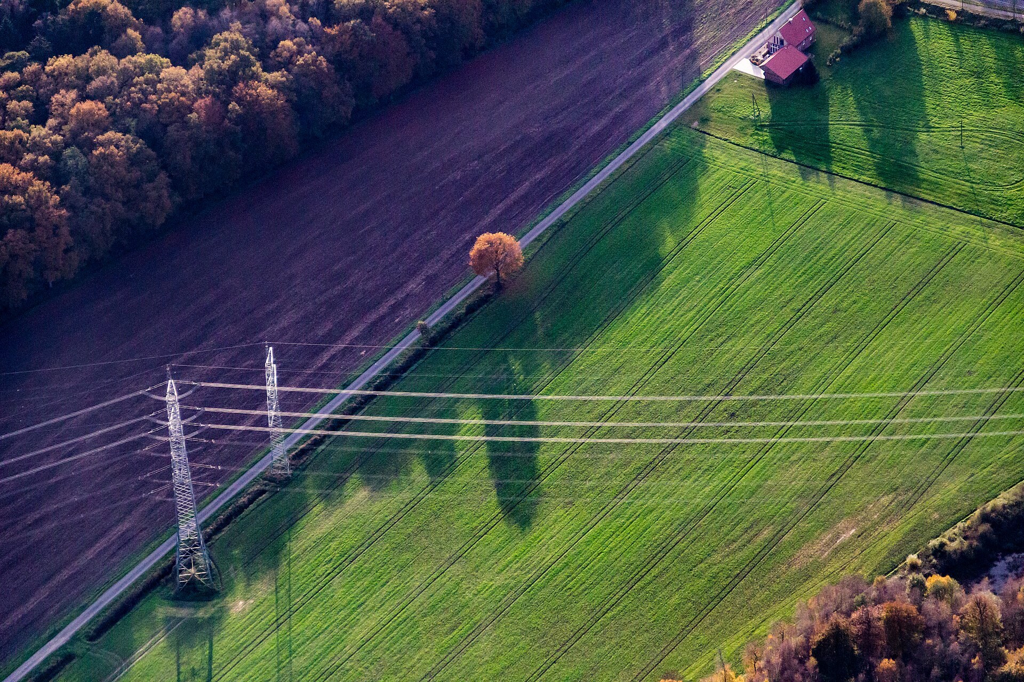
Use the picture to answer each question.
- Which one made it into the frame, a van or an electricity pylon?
electricity pylon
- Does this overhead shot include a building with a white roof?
No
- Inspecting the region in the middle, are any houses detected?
No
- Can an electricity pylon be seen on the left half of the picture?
Yes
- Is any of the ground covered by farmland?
Yes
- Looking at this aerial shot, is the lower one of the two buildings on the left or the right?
right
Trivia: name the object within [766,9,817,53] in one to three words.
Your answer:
house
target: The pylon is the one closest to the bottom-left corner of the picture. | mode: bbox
[146,366,216,590]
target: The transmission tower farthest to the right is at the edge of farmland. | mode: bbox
[263,340,290,477]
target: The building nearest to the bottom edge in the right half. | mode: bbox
[759,43,808,83]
